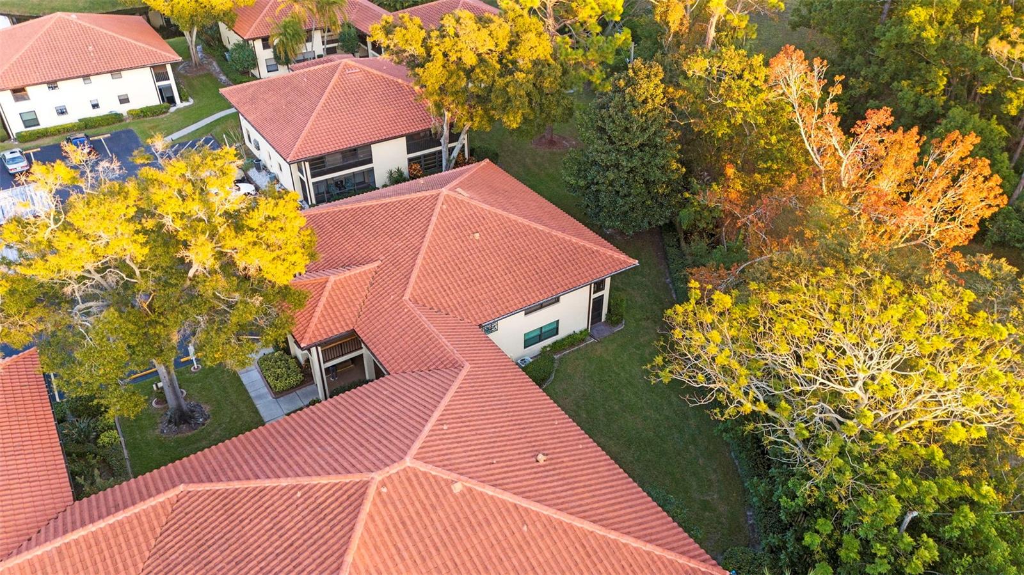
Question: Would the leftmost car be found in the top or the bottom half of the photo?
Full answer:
The leftmost car is in the top half of the image.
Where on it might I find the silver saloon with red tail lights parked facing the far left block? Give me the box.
[0,148,26,170]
